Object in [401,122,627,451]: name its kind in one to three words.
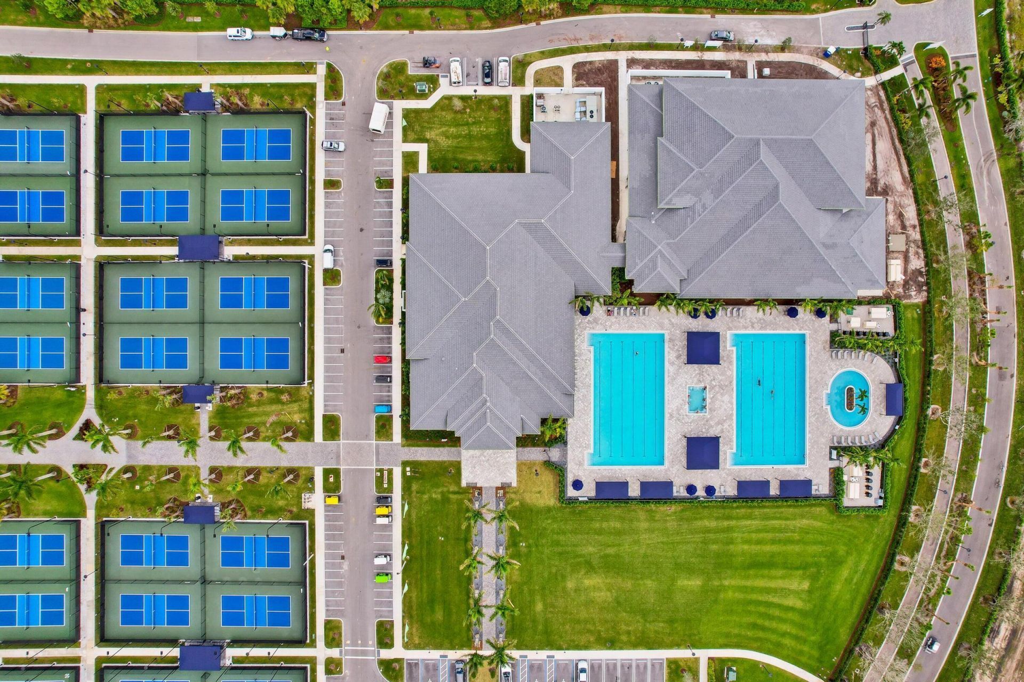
building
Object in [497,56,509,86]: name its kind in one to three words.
vehicle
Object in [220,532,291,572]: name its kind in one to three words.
sports court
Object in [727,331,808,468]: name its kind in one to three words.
swimming pool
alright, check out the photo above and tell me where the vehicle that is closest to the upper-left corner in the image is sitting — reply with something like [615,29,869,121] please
[226,26,253,40]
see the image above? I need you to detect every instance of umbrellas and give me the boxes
[704,305,716,316]
[786,306,798,317]
[704,485,716,496]
[571,479,583,491]
[814,306,826,318]
[685,484,697,495]
[579,304,590,315]
[688,304,700,316]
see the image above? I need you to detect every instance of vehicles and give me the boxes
[413,56,438,67]
[375,376,392,383]
[822,44,838,59]
[376,259,393,267]
[922,638,943,654]
[710,30,734,41]
[481,60,493,85]
[577,660,588,682]
[502,663,511,682]
[322,139,345,151]
[454,661,465,682]
[449,56,462,86]
[371,103,388,134]
[293,27,326,42]
[375,405,391,413]
[324,496,341,504]
[374,554,390,564]
[226,26,253,40]
[375,515,392,524]
[376,496,392,505]
[497,56,509,86]
[375,505,392,514]
[375,356,391,363]
[375,573,392,583]
[321,245,334,269]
